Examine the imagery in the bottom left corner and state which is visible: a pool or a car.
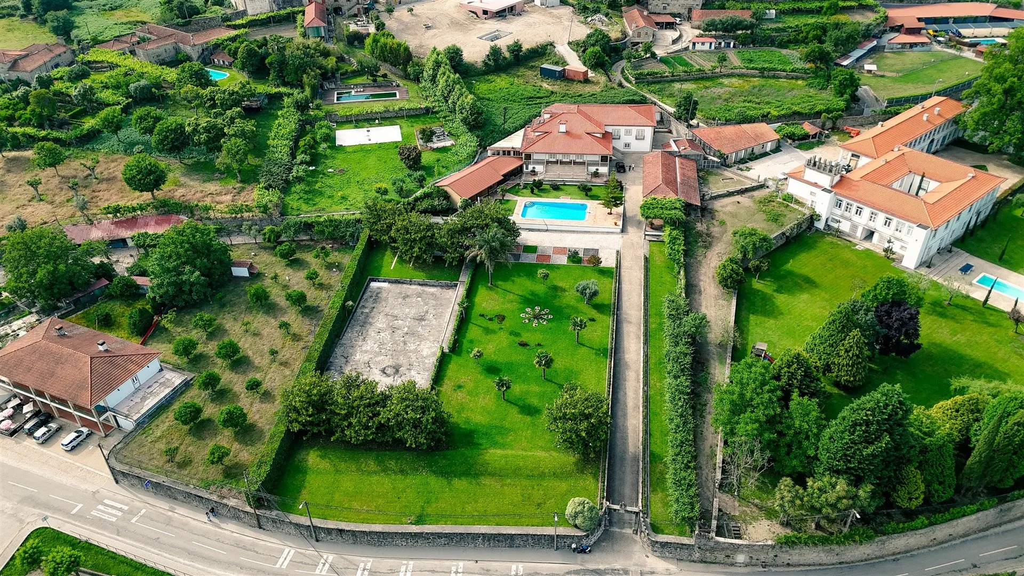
car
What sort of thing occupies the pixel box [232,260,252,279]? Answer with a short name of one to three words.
shed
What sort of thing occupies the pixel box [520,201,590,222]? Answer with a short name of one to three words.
swimming pool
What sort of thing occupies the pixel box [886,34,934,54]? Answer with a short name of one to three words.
building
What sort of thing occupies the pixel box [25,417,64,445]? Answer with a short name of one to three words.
car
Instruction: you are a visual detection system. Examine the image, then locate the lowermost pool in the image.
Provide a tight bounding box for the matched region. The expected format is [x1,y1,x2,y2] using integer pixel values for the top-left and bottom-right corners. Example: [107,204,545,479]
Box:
[970,269,1024,302]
